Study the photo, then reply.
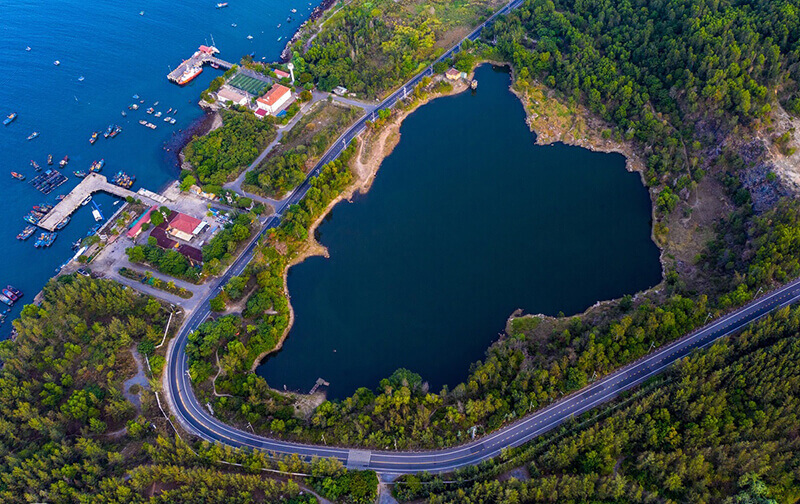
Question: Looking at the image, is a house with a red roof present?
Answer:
Yes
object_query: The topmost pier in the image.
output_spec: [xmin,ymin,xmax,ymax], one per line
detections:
[166,51,234,80]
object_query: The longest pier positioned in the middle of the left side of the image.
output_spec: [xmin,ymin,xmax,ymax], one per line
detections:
[37,170,137,231]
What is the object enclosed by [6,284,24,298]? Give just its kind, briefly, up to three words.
boat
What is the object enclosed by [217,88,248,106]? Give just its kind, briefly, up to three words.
building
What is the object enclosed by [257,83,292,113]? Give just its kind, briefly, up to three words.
building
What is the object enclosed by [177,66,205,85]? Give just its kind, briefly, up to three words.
ship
